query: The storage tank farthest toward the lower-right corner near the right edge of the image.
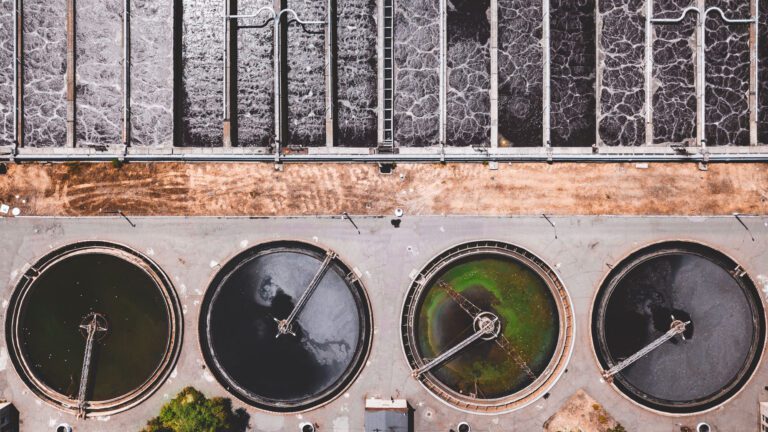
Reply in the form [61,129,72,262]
[592,240,766,414]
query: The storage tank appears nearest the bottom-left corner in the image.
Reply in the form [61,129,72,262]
[4,240,182,418]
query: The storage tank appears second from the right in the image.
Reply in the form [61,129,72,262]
[400,240,574,414]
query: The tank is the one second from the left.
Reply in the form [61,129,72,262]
[199,240,373,414]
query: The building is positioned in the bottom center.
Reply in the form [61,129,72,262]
[365,399,408,432]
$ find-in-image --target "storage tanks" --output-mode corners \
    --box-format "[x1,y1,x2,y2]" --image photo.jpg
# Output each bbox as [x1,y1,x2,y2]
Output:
[199,240,373,414]
[592,240,766,414]
[4,240,182,418]
[400,240,574,414]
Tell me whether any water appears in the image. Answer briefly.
Yes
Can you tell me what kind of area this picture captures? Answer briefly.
industrial area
